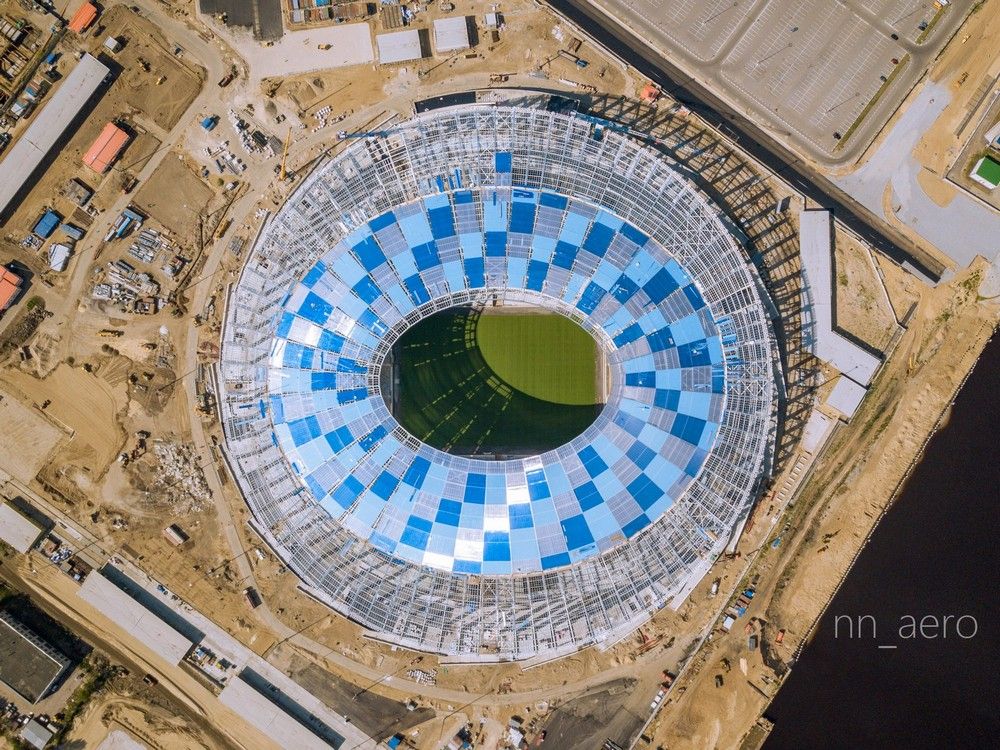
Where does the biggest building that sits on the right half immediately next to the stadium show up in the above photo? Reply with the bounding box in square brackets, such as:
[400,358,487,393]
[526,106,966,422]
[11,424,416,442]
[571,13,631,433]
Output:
[797,210,881,379]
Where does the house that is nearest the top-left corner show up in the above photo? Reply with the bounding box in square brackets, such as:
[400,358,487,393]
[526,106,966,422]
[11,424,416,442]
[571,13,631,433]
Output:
[69,2,102,37]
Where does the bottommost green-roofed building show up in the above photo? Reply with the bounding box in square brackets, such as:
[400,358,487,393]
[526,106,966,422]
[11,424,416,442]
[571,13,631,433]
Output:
[964,145,1000,195]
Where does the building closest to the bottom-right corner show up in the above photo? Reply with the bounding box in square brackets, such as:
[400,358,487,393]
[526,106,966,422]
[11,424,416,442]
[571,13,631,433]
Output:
[823,376,867,418]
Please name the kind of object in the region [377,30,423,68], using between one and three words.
shed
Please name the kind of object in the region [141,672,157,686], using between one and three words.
vehicle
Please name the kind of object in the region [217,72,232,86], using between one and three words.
vehicle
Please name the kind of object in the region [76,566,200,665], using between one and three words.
building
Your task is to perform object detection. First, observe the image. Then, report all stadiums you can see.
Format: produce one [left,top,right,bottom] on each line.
[215,93,789,671]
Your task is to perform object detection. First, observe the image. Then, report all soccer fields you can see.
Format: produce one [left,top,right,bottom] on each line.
[387,307,606,453]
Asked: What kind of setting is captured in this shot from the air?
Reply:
sports ground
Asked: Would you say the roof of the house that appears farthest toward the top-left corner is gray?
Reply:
No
